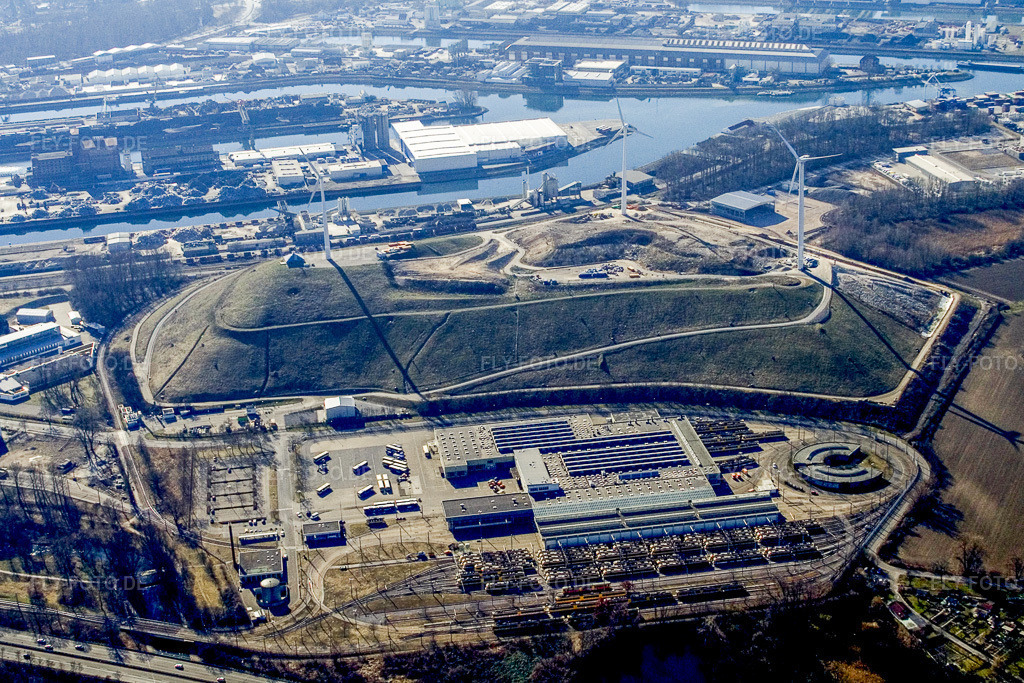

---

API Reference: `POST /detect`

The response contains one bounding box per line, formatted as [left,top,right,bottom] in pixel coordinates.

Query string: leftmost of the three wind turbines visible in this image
[299,151,354,262]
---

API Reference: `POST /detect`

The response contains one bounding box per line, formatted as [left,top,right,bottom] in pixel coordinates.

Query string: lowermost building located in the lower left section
[239,548,284,589]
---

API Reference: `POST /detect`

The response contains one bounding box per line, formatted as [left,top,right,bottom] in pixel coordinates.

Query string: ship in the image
[955,59,1023,71]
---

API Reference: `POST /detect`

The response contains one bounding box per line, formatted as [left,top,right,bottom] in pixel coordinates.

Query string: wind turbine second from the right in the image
[604,99,650,214]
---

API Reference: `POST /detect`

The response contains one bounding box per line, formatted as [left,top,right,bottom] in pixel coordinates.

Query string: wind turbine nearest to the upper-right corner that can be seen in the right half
[777,122,848,269]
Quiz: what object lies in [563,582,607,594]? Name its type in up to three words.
train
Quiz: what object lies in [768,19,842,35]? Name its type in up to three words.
building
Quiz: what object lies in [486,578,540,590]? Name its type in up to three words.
train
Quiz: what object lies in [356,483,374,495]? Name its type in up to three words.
vehicle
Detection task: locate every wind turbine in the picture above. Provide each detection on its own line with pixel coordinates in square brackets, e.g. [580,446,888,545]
[777,122,848,269]
[604,99,650,214]
[299,151,354,262]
